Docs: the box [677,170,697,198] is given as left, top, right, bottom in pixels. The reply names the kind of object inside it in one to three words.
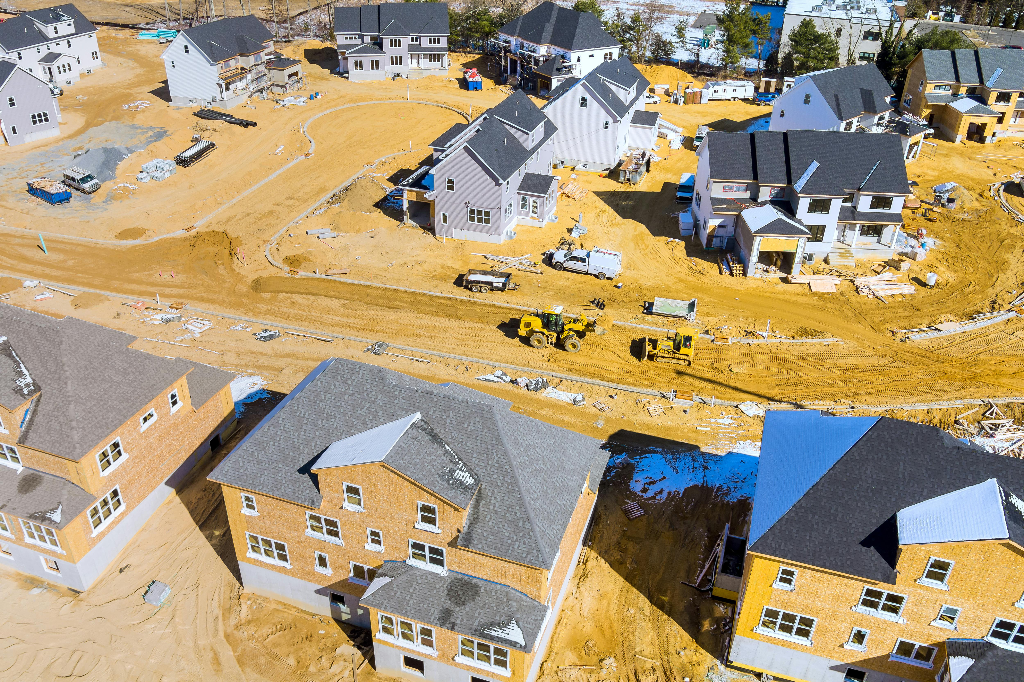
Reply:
vehicle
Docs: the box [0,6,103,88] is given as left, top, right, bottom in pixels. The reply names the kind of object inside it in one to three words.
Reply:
house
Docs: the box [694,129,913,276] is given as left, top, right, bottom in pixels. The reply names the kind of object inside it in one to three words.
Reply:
house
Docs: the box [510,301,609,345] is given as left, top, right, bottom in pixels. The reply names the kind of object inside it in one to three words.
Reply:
work vehicle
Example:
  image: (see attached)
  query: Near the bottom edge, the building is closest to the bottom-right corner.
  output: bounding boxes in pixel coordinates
[707,411,1024,682]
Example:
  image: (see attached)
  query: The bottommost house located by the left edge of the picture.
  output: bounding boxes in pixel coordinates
[0,297,240,589]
